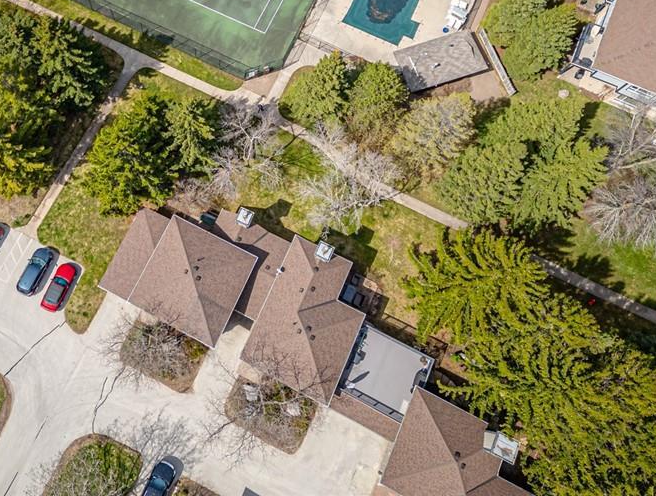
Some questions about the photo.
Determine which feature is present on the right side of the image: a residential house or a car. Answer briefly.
residential house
